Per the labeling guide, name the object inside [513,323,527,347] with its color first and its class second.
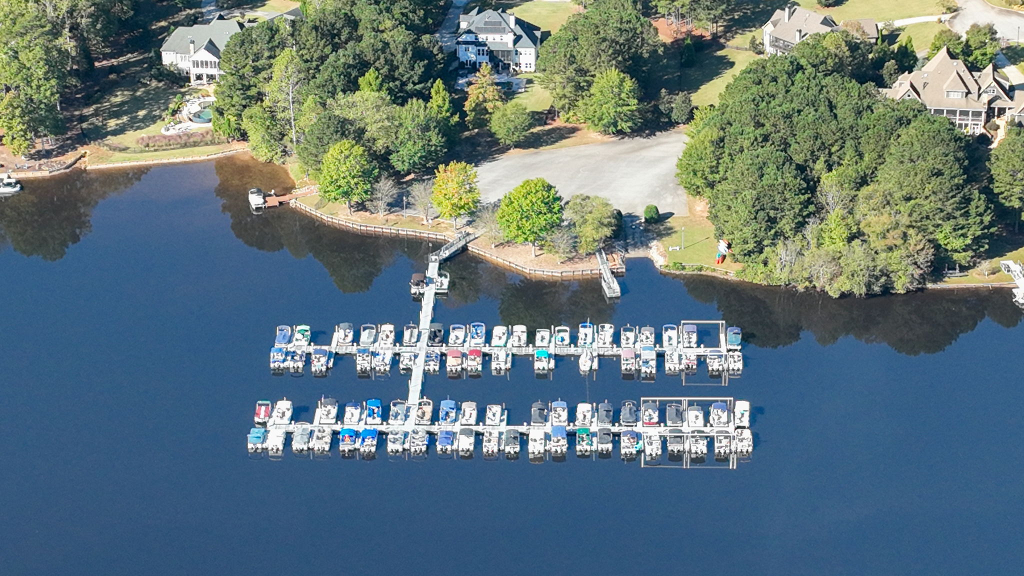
white boat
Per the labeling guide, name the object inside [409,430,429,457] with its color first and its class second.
white boat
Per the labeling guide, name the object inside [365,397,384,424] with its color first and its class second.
blue boat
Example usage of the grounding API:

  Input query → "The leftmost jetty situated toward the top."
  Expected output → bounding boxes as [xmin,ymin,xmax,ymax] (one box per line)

[265,184,322,209]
